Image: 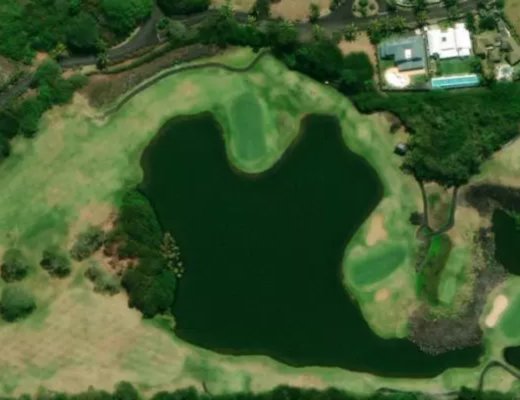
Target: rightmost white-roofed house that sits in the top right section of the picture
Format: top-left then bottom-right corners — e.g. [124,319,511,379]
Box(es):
[427,22,472,58]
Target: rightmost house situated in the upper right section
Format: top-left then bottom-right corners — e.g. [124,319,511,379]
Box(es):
[475,33,520,68]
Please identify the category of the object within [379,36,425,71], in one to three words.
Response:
house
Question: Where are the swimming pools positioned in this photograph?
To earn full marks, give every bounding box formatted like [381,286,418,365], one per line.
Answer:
[431,73,480,88]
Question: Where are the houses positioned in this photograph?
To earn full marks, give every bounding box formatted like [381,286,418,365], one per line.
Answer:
[475,33,520,68]
[379,36,425,71]
[427,22,472,58]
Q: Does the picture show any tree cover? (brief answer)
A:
Yes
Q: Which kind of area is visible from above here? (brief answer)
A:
golf course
